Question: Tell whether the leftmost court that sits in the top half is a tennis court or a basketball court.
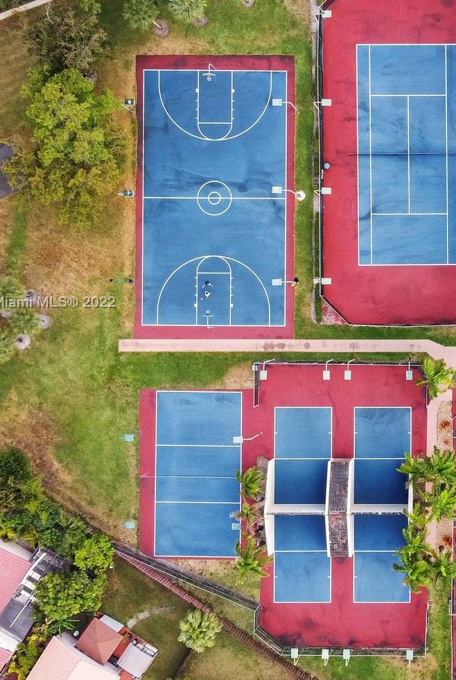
basketball court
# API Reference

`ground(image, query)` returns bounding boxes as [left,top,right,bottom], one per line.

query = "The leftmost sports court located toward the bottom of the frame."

[140,390,253,560]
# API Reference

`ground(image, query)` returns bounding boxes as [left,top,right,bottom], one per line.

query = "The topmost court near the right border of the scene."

[323,0,456,324]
